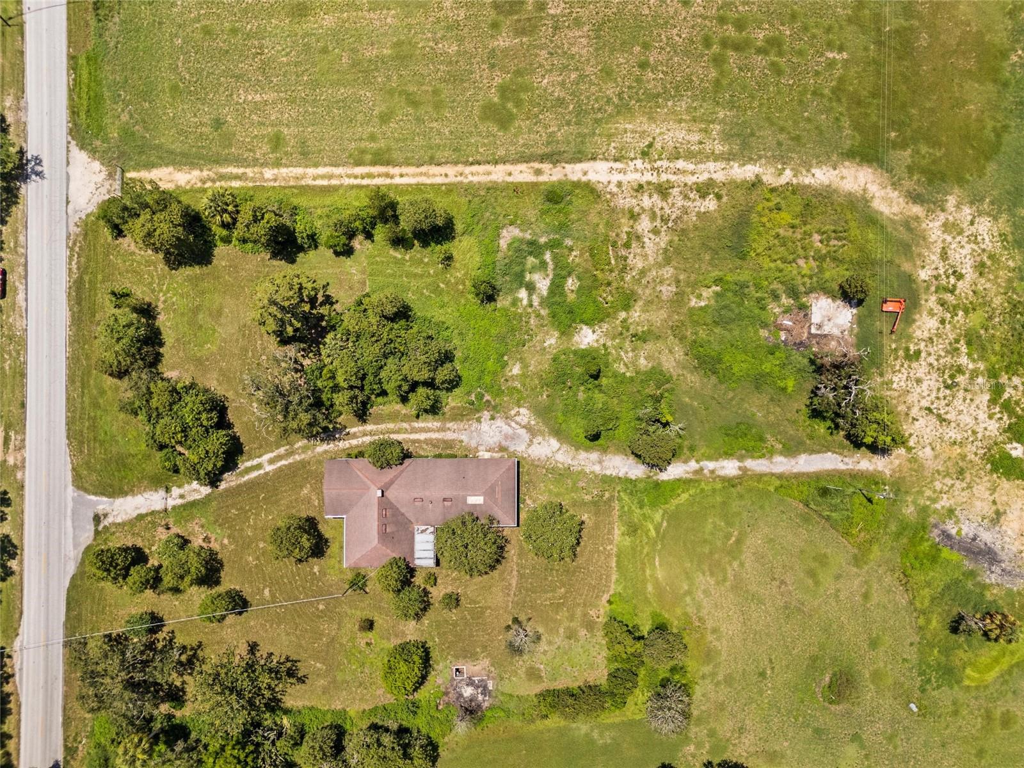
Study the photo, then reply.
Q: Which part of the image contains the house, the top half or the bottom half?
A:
bottom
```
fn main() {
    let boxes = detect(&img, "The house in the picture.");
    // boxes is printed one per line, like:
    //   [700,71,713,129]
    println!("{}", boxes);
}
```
[324,458,517,568]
